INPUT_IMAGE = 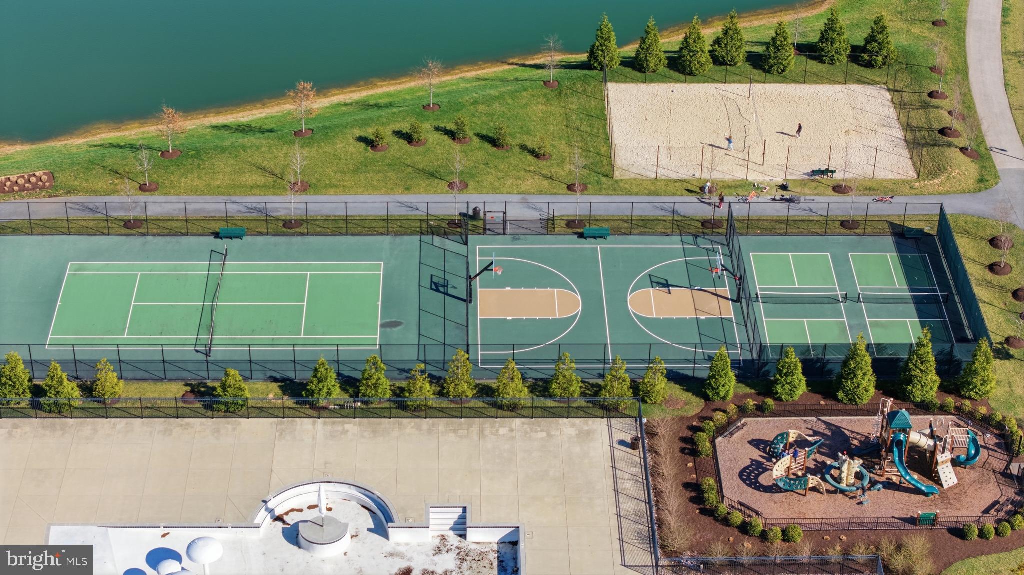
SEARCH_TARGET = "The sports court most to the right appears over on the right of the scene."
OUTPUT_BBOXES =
[848,253,956,342]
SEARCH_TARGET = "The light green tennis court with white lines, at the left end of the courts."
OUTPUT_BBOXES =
[46,262,383,348]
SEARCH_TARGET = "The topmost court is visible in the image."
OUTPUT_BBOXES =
[608,83,918,178]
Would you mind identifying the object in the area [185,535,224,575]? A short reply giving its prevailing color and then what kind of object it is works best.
white fountain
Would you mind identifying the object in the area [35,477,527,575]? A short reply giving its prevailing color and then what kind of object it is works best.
white swimming pool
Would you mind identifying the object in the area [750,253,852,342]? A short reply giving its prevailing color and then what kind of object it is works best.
green sports court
